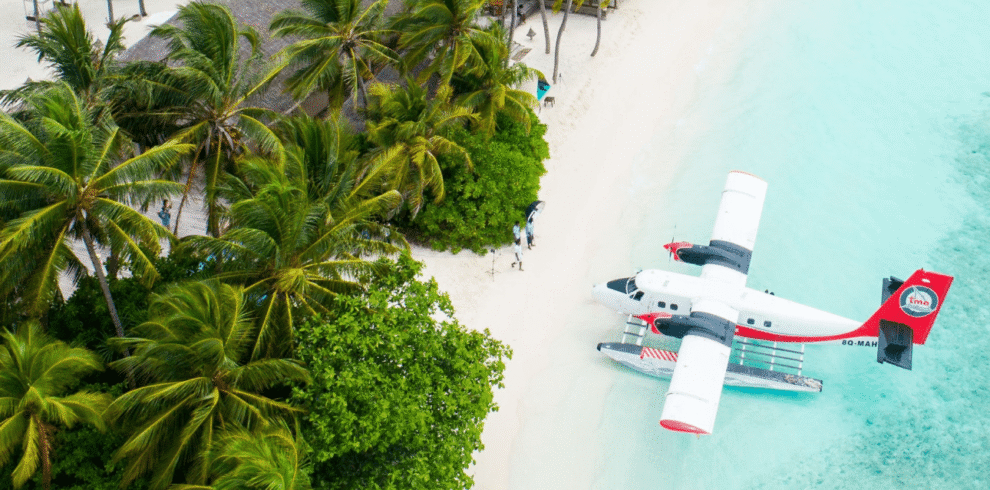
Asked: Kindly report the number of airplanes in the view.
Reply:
one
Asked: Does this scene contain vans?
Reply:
No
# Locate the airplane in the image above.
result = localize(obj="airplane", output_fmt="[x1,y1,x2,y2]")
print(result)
[592,172,952,434]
